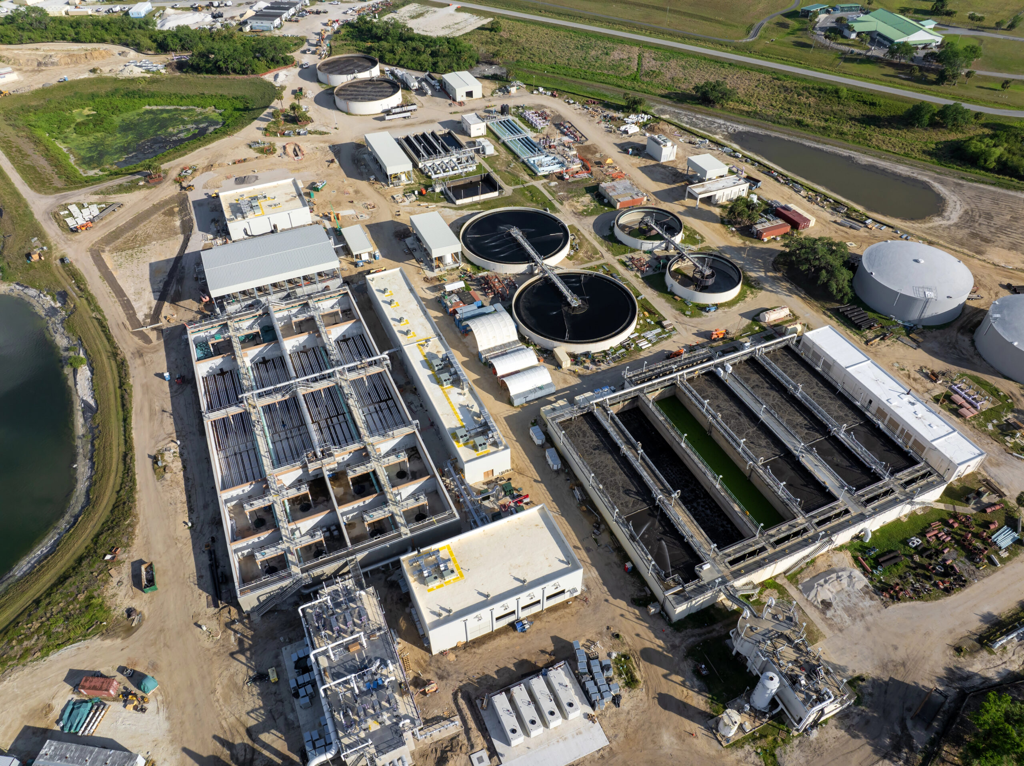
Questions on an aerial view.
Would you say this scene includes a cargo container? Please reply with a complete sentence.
Yes, a cargo container appears in the view.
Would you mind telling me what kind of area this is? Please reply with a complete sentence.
This image shows an industrial area.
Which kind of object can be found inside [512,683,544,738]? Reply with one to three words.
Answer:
storage tank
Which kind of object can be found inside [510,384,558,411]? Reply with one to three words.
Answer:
shipping container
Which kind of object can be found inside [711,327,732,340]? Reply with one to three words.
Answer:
vehicle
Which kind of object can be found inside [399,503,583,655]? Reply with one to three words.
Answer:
building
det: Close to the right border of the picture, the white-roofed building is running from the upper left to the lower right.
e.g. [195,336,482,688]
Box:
[800,325,987,479]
